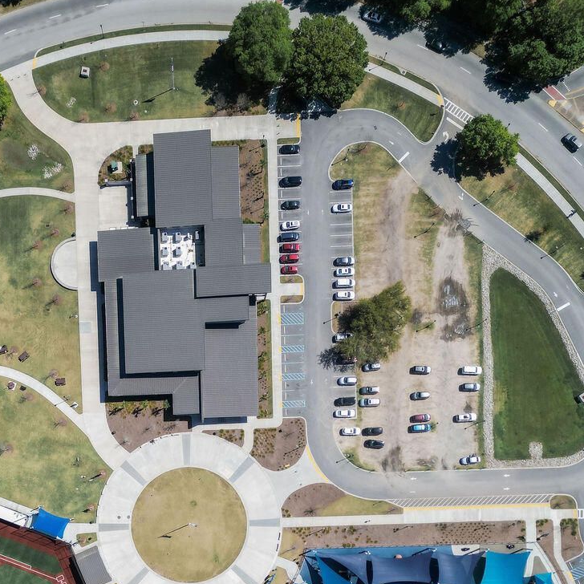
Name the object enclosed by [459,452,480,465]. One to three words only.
vehicle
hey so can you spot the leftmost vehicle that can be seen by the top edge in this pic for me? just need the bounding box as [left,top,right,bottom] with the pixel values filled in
[363,10,383,27]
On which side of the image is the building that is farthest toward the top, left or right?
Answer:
left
